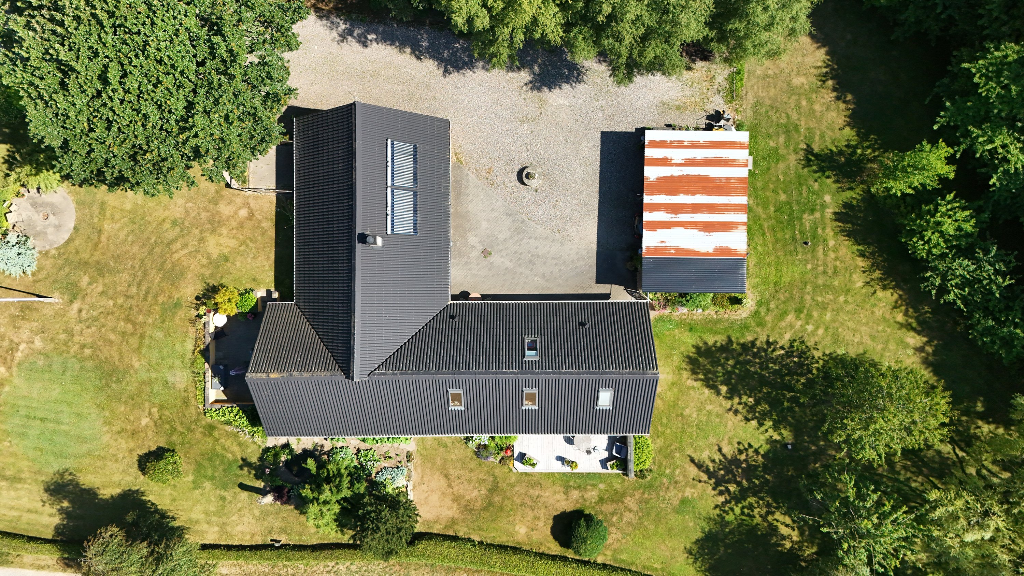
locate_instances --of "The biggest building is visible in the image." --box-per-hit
[245,88,660,436]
